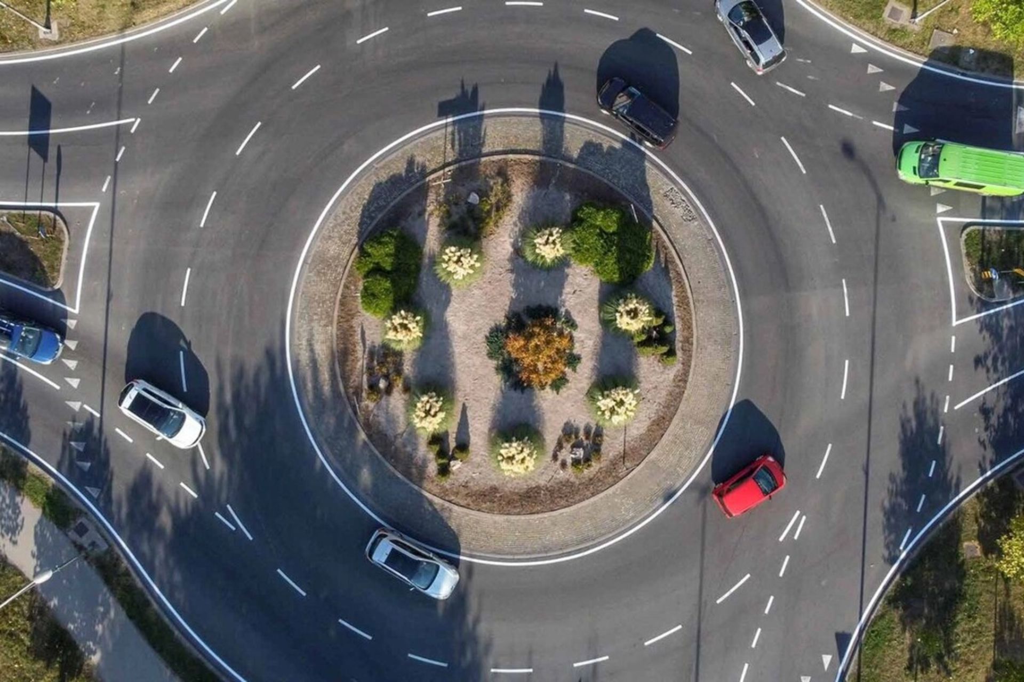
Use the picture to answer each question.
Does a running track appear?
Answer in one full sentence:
No, I can see no running track in this picture.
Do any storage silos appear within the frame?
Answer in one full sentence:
No, the scene contains no storage silo.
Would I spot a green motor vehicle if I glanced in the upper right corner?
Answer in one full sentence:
Yes, looking in the upper right corner, one can make out a green motor vehicle.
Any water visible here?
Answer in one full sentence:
No, no water is visible.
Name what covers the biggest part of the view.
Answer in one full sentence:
The scene is dominated by paved ground.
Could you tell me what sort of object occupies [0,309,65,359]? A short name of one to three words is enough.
truck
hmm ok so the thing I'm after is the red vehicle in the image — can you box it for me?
[712,456,784,517]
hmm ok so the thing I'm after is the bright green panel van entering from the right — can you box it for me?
[899,137,1024,194]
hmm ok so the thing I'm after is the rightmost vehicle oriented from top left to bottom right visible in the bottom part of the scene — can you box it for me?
[368,527,456,596]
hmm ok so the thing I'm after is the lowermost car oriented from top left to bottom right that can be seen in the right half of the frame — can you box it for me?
[598,82,680,150]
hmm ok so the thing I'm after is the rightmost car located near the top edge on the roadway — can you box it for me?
[712,0,784,72]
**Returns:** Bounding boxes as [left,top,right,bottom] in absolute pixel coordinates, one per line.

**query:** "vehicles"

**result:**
[598,82,680,150]
[0,309,65,359]
[712,0,784,72]
[712,456,784,517]
[368,527,456,596]
[899,137,1024,194]
[117,379,207,446]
